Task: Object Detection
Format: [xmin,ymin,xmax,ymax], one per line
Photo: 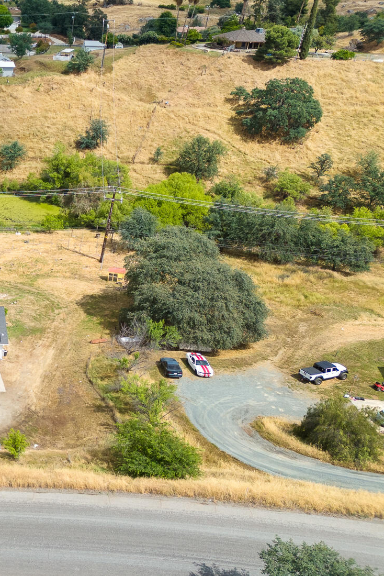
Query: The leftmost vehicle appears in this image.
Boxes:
[158,356,186,381]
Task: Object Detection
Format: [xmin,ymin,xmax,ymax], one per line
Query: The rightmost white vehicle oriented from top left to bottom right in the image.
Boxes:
[182,350,218,379]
